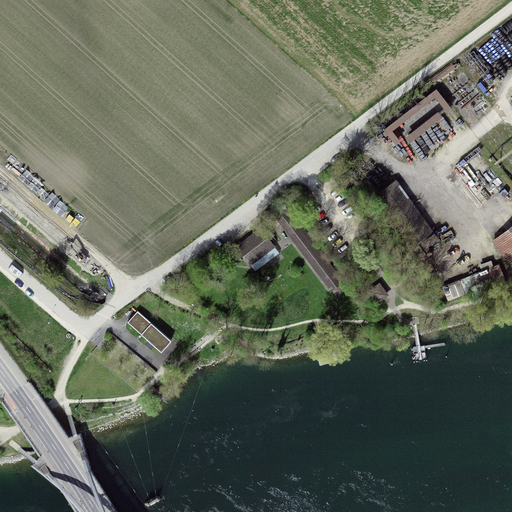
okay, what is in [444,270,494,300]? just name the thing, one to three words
building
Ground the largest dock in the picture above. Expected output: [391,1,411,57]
[411,316,446,362]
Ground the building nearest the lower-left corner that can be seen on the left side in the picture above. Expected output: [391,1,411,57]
[128,311,171,353]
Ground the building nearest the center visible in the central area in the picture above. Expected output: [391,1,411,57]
[235,230,278,272]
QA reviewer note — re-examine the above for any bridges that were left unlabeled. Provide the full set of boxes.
[0,346,114,512]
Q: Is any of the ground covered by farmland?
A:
Yes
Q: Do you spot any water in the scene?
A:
Yes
